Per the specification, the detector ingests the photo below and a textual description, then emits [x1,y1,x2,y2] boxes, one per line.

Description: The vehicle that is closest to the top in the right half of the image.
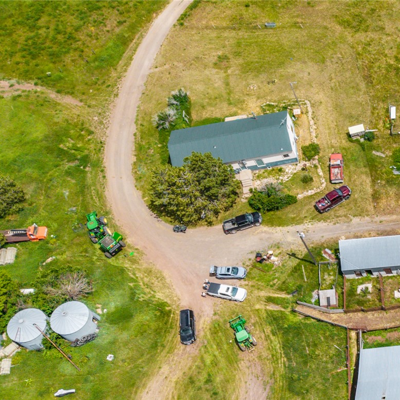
[327,154,344,184]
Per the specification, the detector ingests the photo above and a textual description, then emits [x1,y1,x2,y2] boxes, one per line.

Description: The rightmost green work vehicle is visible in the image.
[223,308,259,352]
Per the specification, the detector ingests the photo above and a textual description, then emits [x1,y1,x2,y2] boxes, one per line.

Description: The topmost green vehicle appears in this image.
[82,207,112,239]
